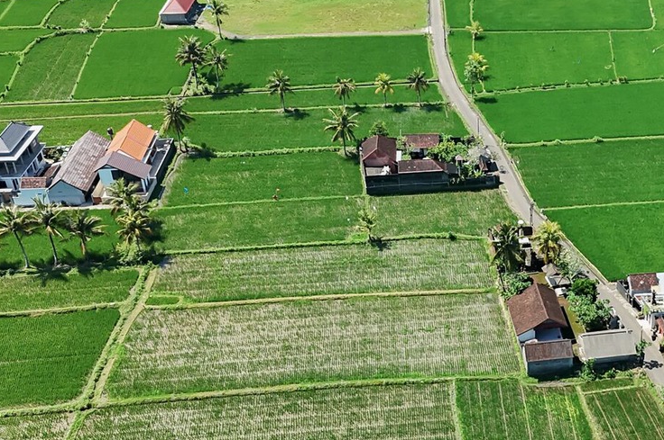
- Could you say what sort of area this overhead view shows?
farmland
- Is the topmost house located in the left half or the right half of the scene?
left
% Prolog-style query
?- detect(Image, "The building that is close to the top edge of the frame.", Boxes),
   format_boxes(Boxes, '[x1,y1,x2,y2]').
[161,0,201,24]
